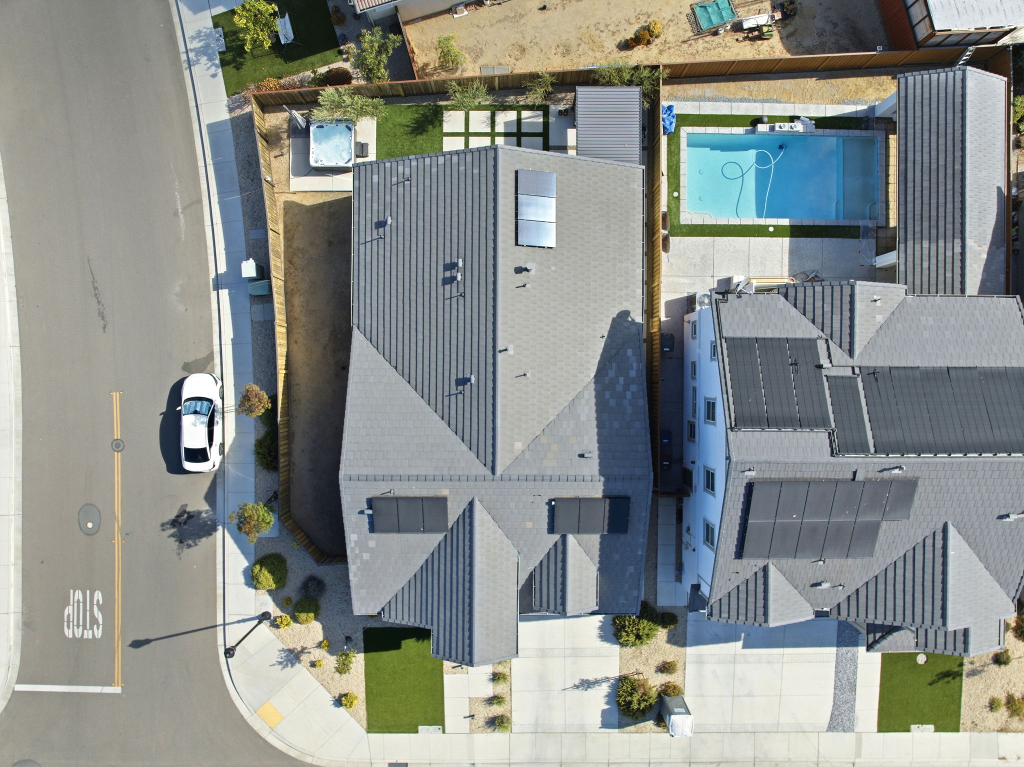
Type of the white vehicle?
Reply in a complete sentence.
The white vehicle is a car.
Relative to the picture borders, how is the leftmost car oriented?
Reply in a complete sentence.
I'd say the leftmost car is aligned up and down in the picture.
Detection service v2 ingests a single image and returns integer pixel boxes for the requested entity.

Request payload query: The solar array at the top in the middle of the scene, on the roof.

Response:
[517,169,555,249]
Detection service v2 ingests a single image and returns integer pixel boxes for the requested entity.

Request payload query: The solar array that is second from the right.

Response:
[553,498,630,533]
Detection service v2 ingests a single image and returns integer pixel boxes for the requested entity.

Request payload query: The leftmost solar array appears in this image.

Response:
[371,497,449,533]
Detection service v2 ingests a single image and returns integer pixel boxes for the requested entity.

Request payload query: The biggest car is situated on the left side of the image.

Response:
[172,374,223,472]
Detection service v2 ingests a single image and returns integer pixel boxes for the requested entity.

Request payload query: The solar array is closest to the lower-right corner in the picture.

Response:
[742,481,919,559]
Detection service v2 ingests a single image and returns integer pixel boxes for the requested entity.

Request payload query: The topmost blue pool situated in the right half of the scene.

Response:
[680,127,885,226]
